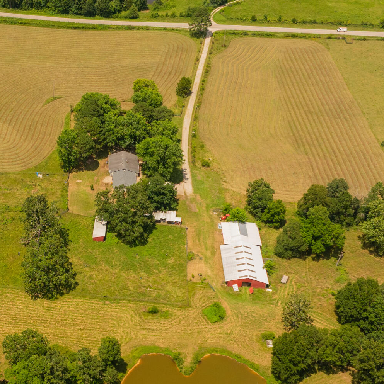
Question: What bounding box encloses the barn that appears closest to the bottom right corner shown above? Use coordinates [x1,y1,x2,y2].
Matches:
[220,219,268,288]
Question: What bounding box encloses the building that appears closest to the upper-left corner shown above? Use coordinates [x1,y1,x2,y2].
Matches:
[103,151,144,195]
